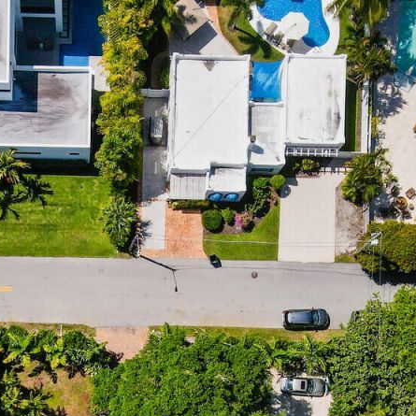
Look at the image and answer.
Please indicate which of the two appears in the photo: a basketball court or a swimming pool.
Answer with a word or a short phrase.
swimming pool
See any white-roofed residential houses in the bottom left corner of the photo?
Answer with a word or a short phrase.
No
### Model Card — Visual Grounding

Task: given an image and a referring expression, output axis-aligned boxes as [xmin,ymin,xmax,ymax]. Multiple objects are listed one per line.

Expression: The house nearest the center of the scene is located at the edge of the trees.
[166,54,346,206]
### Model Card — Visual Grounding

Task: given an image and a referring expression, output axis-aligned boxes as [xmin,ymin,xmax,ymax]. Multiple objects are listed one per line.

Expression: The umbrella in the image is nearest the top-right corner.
[280,14,308,42]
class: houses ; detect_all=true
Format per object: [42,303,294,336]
[0,0,91,165]
[166,54,346,206]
